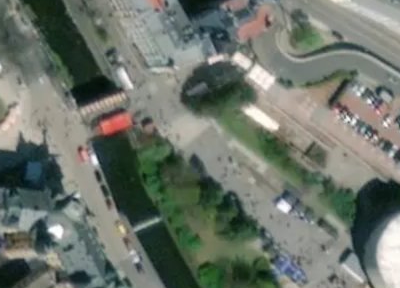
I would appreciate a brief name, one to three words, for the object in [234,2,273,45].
house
